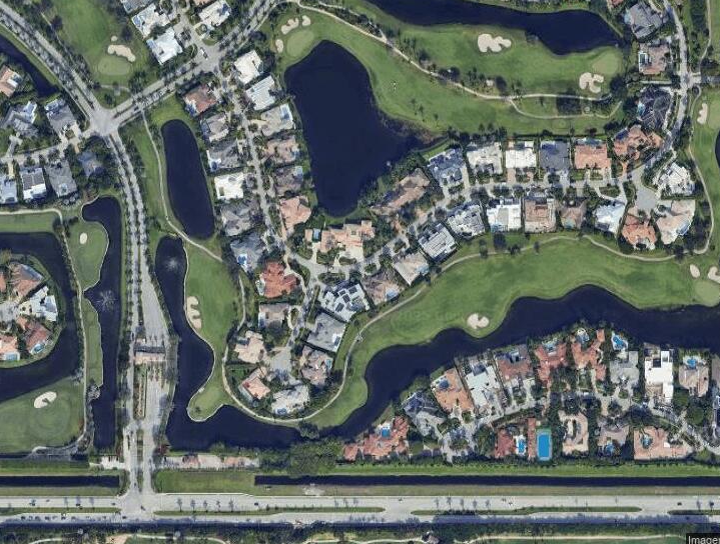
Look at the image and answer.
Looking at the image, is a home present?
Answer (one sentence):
Yes, there's a home here.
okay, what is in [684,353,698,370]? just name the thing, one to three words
swimming pool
